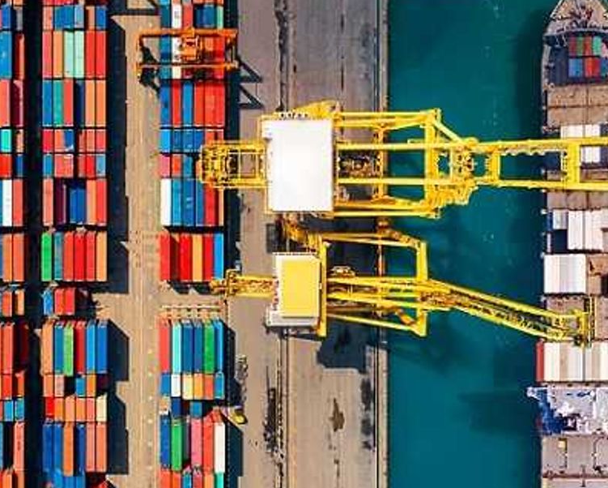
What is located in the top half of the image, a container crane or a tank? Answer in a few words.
container crane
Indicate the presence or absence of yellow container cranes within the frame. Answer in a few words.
Yes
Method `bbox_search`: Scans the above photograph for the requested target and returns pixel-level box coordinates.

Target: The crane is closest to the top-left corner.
[133,25,237,88]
